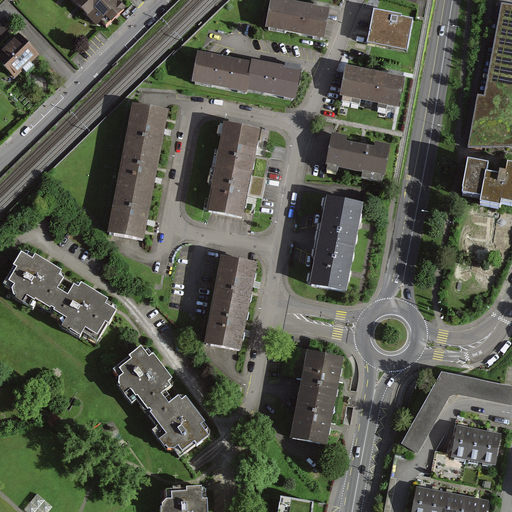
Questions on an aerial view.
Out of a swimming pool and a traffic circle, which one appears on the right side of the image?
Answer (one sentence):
There is a traffic circle on the right side of the image.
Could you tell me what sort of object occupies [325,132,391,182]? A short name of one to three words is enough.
building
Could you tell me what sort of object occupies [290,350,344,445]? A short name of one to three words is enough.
building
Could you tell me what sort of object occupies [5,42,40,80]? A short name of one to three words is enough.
house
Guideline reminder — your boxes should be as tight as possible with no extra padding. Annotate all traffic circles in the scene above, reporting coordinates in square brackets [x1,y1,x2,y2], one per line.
[354,298,428,372]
